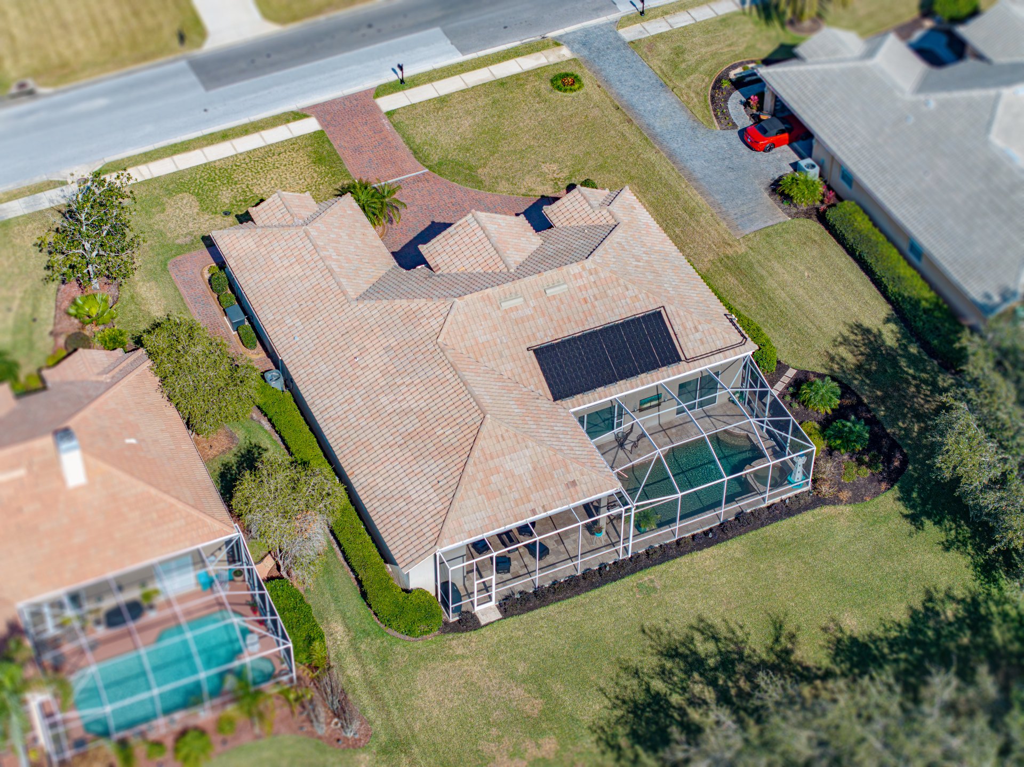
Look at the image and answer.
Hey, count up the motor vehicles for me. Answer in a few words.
one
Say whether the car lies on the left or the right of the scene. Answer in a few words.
right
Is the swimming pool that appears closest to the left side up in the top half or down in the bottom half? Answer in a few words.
bottom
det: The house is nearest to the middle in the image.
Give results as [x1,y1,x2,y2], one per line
[208,179,758,600]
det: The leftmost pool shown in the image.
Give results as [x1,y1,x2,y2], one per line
[74,610,246,733]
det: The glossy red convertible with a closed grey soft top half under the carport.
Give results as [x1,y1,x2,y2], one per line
[741,110,810,151]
